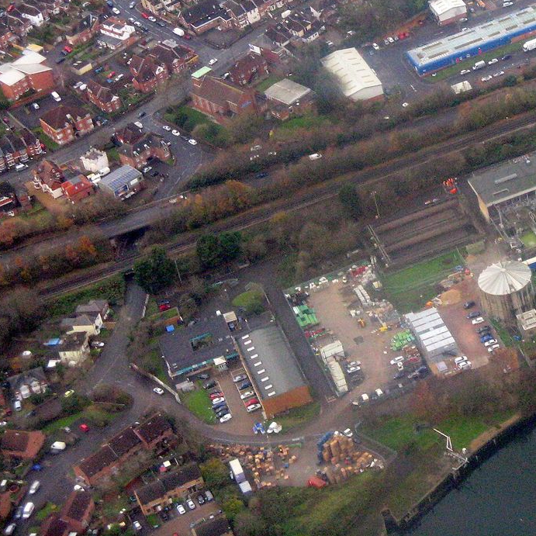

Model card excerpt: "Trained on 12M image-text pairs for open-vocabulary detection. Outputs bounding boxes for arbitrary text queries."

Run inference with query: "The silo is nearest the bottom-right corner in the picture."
[480,260,536,316]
